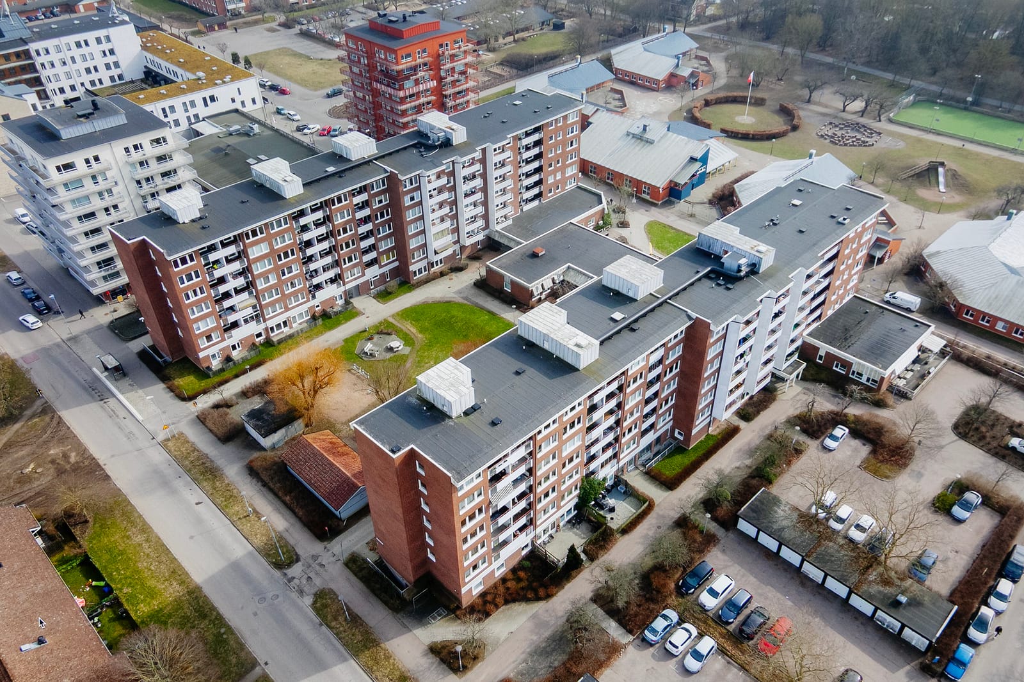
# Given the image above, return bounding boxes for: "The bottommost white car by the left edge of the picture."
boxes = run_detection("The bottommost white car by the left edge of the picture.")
[18,314,43,329]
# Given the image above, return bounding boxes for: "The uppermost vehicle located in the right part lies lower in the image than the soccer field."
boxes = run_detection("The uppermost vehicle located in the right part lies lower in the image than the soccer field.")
[888,291,921,310]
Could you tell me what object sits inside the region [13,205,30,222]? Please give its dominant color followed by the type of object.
white vehicle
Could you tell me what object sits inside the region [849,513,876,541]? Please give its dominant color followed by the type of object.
white car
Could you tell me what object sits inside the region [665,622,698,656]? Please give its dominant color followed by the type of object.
white car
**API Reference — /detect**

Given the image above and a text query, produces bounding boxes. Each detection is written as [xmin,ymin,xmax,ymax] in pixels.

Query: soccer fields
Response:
[891,101,1024,150]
